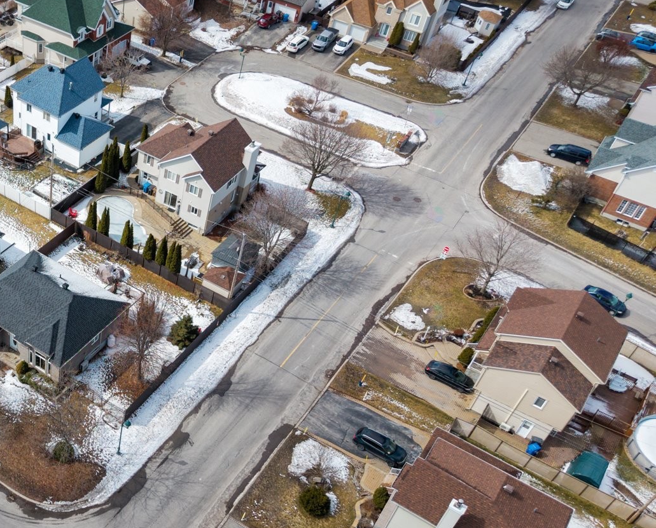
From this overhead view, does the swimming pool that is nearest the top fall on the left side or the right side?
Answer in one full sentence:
The swimming pool that is nearest the top is on the left side of the image.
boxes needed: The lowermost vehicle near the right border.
[580,282,631,321]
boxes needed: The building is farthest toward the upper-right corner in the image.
[599,67,656,149]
